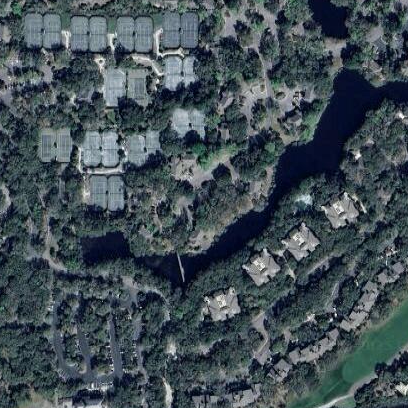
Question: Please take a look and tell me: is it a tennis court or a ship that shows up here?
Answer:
tennis court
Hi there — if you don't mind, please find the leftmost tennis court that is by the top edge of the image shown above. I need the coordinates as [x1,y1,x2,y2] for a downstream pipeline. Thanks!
[24,13,43,49]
